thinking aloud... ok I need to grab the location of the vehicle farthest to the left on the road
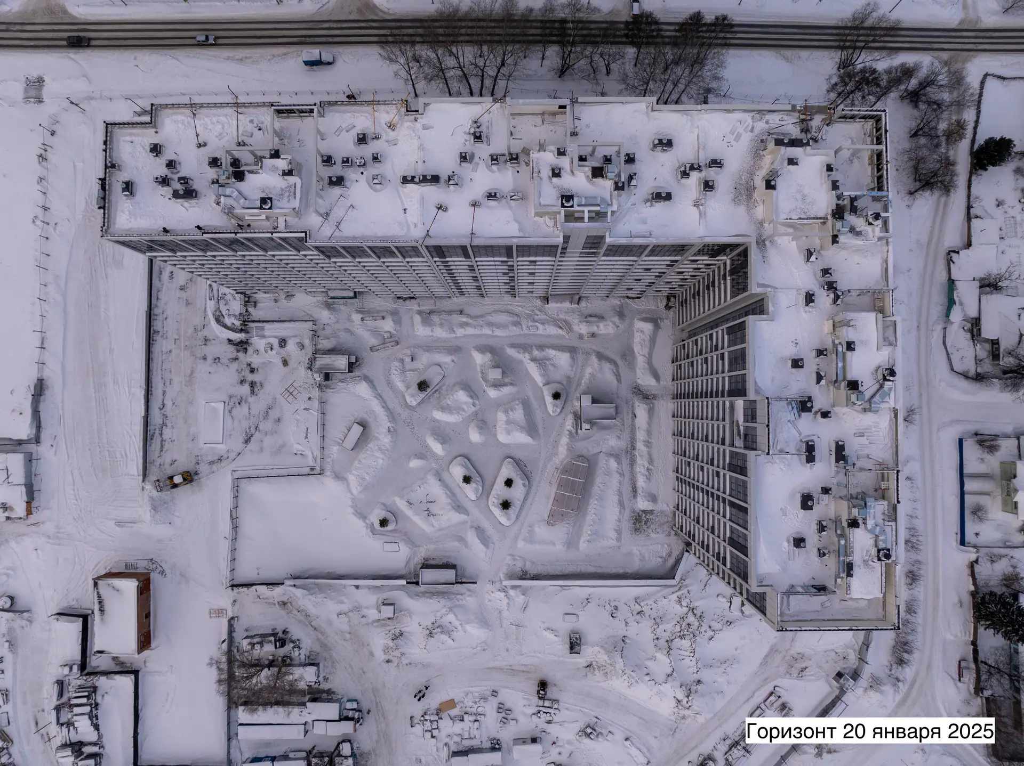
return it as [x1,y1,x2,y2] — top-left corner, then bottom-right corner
[65,34,91,48]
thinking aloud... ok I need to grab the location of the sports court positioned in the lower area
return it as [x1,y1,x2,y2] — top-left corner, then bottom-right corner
[547,457,589,525]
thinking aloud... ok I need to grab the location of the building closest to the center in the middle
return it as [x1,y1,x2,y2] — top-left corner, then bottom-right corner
[579,394,615,429]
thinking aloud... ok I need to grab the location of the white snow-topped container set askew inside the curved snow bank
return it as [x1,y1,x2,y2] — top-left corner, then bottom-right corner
[341,421,366,450]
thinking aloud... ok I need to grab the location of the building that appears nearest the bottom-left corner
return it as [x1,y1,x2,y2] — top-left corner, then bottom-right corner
[89,573,152,655]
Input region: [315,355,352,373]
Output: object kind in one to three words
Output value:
building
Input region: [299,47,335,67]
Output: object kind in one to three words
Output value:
vehicle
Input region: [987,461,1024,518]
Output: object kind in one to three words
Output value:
building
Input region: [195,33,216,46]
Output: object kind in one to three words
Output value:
vehicle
